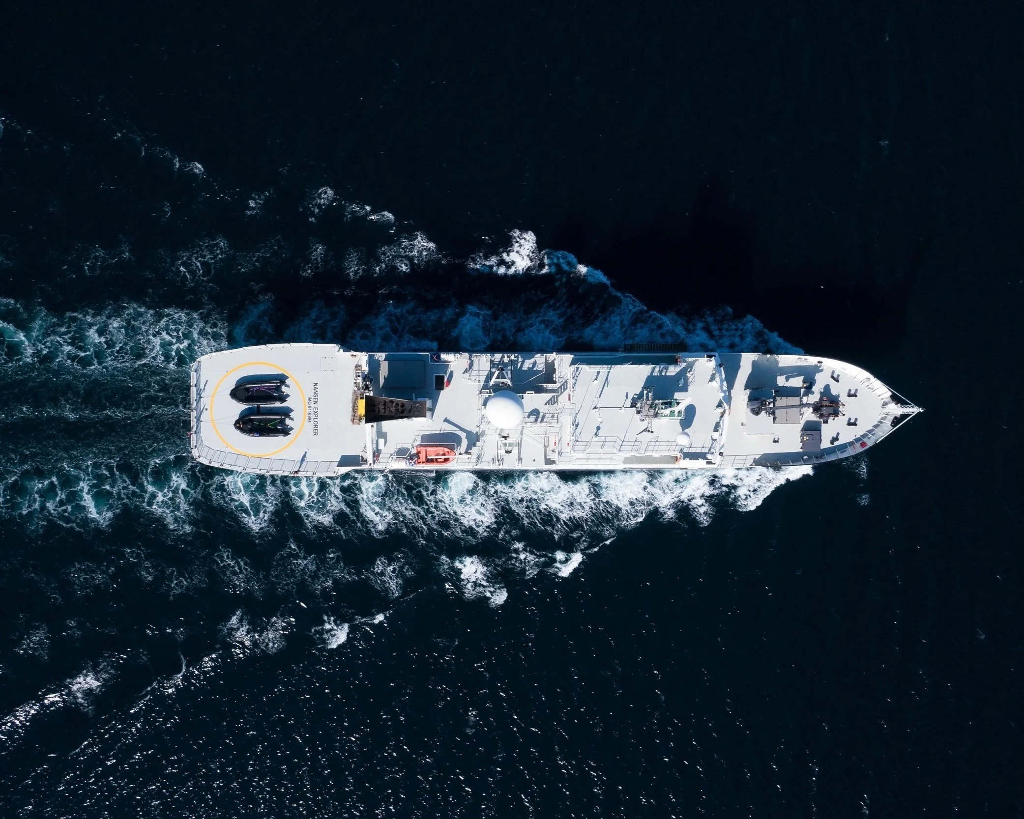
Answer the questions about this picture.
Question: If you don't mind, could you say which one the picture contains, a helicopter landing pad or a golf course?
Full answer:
The image shows a helicopter landing pad.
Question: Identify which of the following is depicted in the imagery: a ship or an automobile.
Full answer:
The one in the frame is a ship.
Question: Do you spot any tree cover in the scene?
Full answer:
No, there is no tree cover in the image.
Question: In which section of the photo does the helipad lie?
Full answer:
The helipad is located in the left region of the scene.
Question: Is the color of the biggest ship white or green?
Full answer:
In this view, the biggest ship is white.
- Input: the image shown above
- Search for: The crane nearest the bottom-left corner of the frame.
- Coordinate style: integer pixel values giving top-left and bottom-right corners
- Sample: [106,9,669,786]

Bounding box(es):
[366,423,379,472]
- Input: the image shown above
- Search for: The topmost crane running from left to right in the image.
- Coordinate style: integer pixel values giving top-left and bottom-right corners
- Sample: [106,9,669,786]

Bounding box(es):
[740,401,818,418]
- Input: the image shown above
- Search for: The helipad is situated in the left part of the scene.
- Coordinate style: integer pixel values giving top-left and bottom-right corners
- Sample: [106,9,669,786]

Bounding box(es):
[186,343,366,476]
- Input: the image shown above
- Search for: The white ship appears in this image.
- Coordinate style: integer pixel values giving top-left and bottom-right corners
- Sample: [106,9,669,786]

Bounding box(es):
[337,343,925,475]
